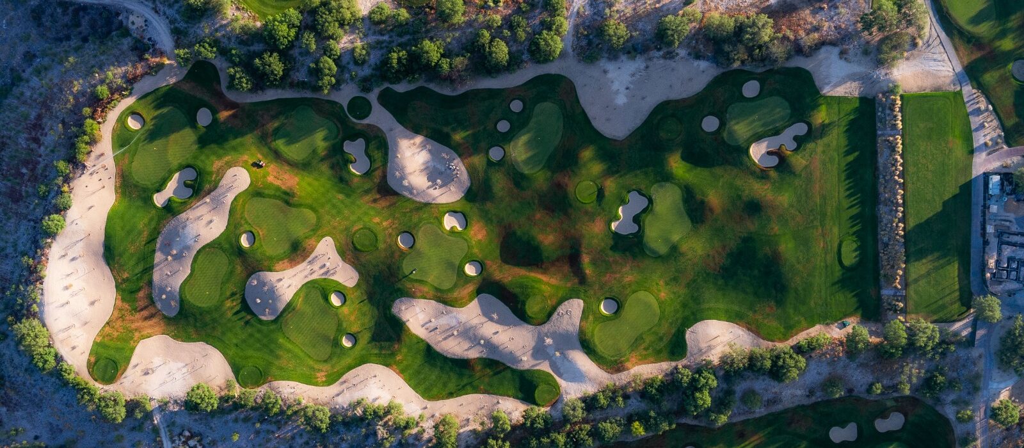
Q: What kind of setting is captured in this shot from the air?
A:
golf course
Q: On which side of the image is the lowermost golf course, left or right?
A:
right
